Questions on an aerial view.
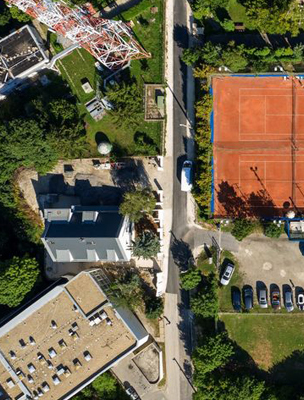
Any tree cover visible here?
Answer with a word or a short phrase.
Yes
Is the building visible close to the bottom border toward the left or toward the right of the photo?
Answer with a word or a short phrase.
left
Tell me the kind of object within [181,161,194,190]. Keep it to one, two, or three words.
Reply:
vehicle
